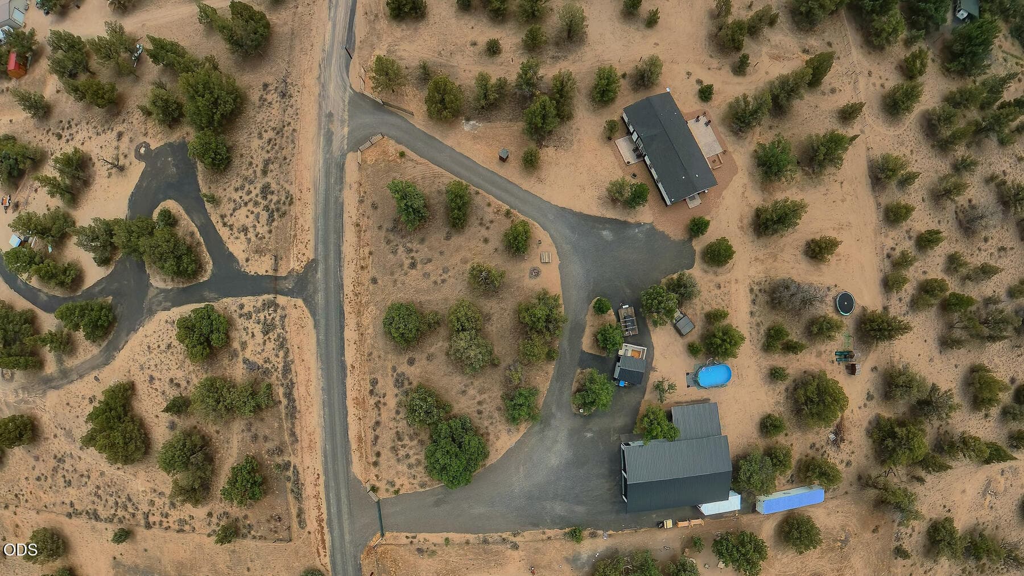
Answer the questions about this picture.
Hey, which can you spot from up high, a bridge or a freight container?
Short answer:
freight container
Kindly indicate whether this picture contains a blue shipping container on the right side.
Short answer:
Yes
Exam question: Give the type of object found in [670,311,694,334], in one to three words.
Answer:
car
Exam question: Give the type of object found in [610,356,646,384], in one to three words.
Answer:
shed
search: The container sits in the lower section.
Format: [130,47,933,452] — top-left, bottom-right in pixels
[756,486,826,515]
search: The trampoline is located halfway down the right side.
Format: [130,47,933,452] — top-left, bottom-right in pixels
[836,291,855,315]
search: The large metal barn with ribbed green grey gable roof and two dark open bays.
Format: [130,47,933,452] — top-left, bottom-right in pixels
[618,435,733,513]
